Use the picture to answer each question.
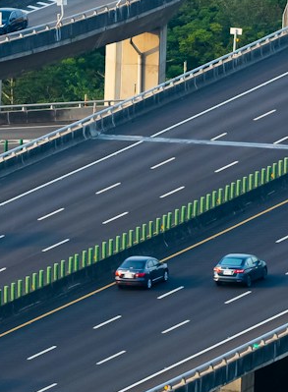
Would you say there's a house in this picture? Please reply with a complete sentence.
No, no house is visible in the view.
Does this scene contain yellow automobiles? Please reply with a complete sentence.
No, there's no yellow automobile here.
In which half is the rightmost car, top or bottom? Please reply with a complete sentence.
You can find the rightmost car in the bottom half.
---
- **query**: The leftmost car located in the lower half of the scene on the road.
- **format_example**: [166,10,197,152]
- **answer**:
[118,254,175,288]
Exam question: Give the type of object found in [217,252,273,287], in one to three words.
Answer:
car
